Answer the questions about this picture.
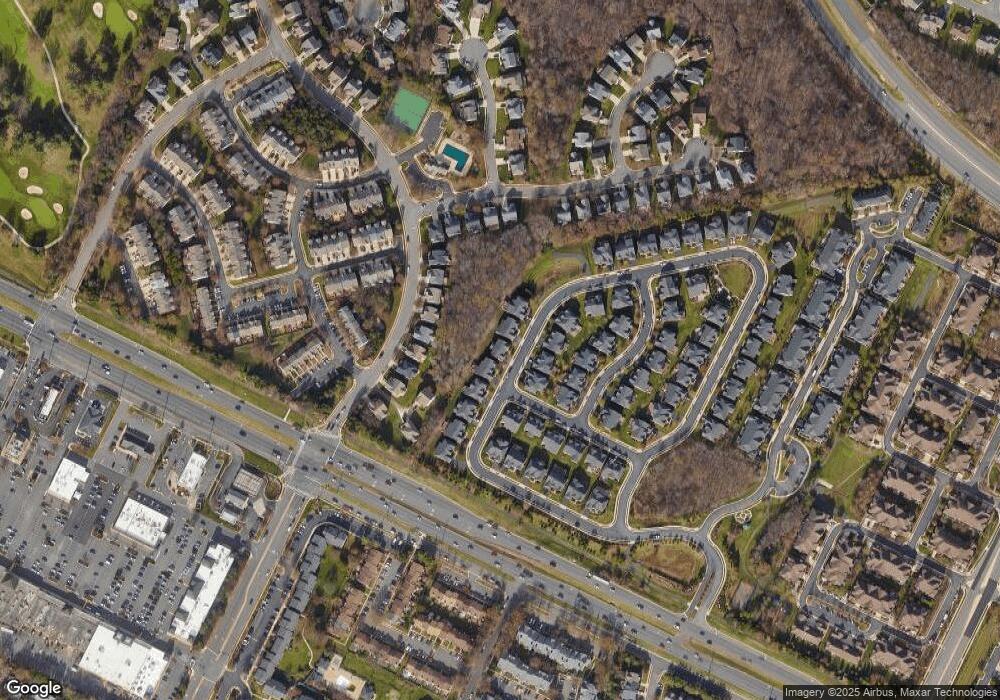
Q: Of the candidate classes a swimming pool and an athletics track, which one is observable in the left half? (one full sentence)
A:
You can see a swimming pool in the left half.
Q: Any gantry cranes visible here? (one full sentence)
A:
No, I find no gantry crane anywhere in the image.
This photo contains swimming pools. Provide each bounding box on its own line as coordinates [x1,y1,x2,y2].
[436,139,475,178]
[323,655,365,700]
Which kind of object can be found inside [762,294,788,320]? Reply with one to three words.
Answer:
house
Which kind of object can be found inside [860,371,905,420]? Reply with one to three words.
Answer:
building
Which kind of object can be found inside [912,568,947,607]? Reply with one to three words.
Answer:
building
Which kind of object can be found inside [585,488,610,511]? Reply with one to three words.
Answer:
house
